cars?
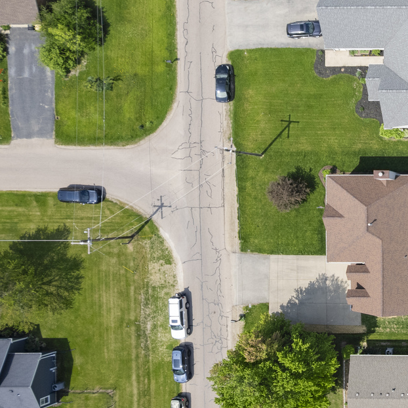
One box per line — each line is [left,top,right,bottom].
[287,20,323,38]
[166,293,189,338]
[170,393,190,408]
[57,185,107,205]
[215,64,235,103]
[169,346,190,382]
